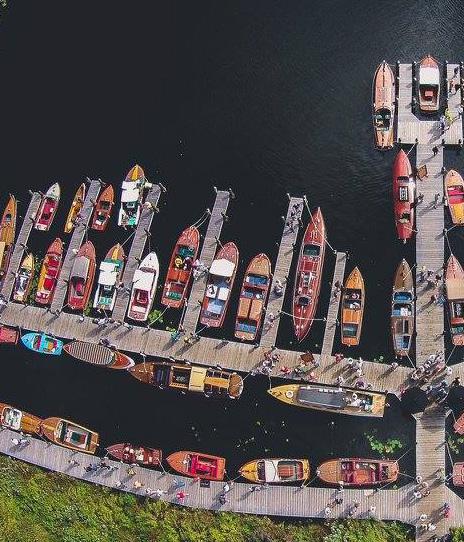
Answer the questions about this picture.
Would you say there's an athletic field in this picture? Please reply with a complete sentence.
No, no athletic field can be seen from above.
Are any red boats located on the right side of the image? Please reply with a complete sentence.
Yes, a red boat can be seen on the right side of the image.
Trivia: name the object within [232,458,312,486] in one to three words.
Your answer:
boat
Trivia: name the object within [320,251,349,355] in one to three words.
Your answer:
pier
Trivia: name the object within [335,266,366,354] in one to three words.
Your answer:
boat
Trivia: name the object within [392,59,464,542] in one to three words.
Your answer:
pier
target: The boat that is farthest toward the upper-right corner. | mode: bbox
[414,53,447,114]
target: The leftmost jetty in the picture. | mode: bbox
[0,191,46,302]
